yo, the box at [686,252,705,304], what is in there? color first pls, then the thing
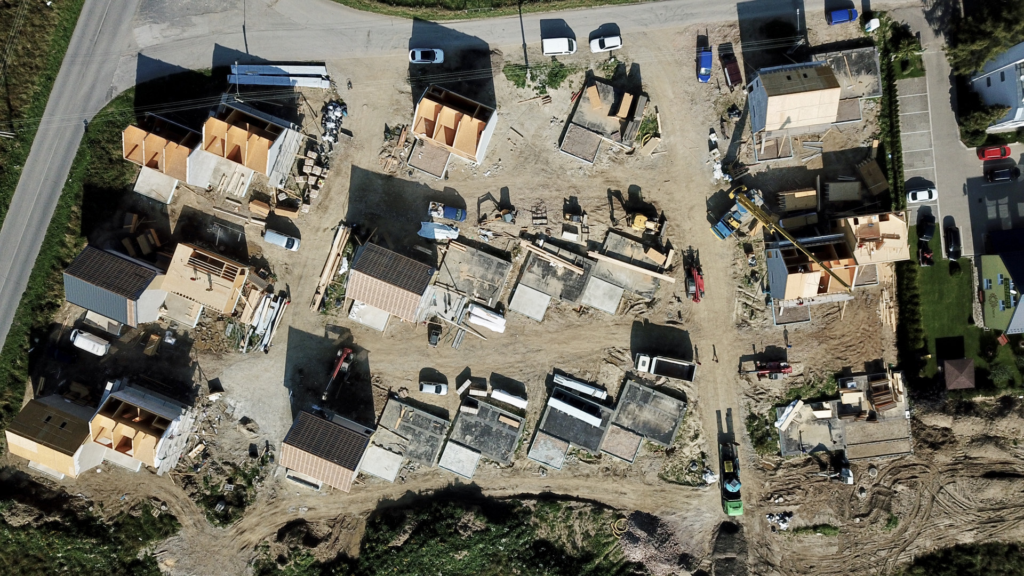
red work vehicle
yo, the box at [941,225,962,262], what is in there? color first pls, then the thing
black car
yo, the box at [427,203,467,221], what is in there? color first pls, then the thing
blue vehicle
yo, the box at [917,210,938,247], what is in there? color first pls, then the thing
black truck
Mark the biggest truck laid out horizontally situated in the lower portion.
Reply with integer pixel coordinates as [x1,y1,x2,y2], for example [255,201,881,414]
[633,353,698,384]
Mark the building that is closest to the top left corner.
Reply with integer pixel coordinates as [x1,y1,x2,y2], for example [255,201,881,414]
[122,111,214,187]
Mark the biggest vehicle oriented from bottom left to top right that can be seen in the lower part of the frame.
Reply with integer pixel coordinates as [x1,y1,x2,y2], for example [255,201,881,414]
[323,348,355,398]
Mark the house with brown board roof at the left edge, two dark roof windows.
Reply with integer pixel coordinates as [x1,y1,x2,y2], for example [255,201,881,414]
[5,399,101,477]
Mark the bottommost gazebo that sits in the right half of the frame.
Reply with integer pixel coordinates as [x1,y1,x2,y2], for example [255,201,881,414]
[938,359,975,390]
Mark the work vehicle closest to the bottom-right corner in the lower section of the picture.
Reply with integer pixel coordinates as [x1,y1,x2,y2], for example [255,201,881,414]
[814,468,857,482]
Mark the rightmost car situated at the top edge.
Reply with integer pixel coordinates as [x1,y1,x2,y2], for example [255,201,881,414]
[823,7,858,25]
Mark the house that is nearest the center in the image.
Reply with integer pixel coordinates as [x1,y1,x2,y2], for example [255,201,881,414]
[344,242,436,323]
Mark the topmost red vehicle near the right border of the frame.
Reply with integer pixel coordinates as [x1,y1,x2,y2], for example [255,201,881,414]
[975,144,1010,161]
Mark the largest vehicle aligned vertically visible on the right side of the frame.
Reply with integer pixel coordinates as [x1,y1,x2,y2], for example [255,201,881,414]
[720,442,745,519]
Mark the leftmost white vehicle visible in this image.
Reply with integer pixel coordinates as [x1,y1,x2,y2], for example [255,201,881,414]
[71,329,111,357]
